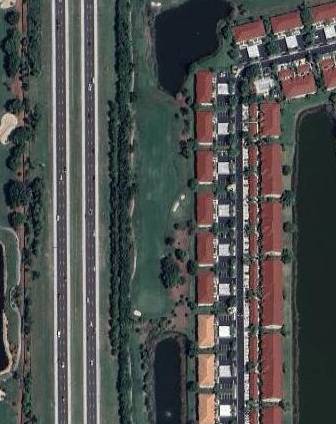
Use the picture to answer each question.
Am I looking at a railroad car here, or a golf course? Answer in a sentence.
The image shows a golf course.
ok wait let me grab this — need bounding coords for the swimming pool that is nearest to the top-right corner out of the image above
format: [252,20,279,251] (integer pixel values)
[255,78,274,95]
